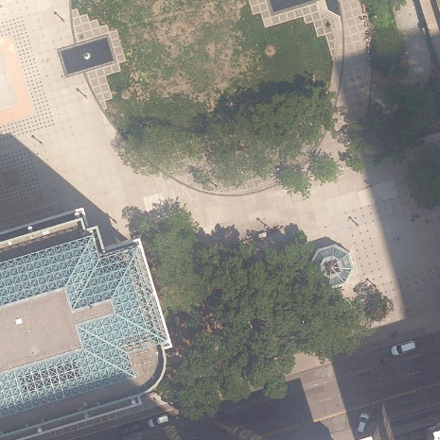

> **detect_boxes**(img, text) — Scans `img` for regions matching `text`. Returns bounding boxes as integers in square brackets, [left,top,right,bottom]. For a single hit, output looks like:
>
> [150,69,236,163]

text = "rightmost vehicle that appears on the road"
[391,341,416,355]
